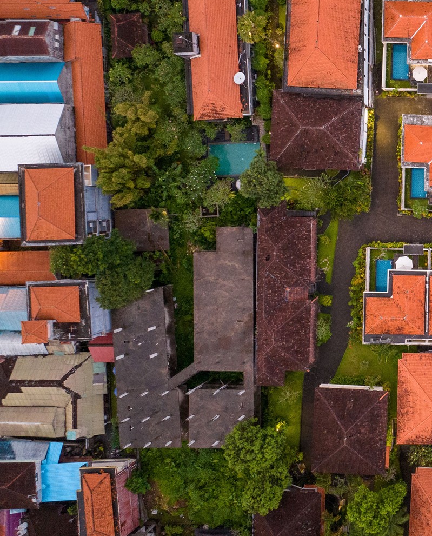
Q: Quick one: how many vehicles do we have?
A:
none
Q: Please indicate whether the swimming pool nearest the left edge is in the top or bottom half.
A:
top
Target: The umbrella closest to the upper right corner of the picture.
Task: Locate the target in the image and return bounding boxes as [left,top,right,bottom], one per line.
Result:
[413,67,427,81]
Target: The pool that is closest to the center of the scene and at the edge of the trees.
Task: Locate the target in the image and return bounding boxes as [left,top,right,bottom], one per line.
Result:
[206,140,264,180]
